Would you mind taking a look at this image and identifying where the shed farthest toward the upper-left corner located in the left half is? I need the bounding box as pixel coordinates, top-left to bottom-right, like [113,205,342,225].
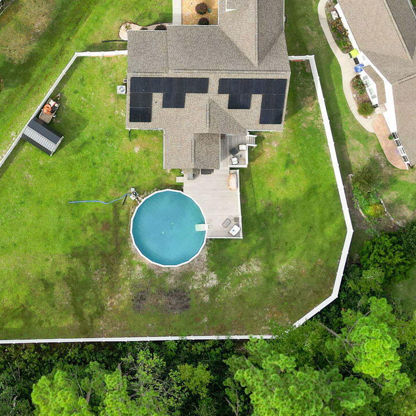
[22,117,63,153]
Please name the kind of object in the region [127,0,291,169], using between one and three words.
house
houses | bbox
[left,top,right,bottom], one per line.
[127,0,291,169]
[334,0,416,167]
